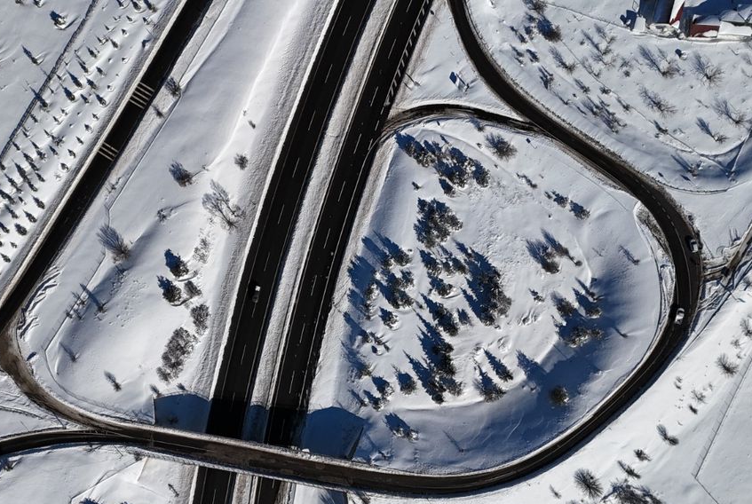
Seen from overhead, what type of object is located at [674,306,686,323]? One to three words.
vehicle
